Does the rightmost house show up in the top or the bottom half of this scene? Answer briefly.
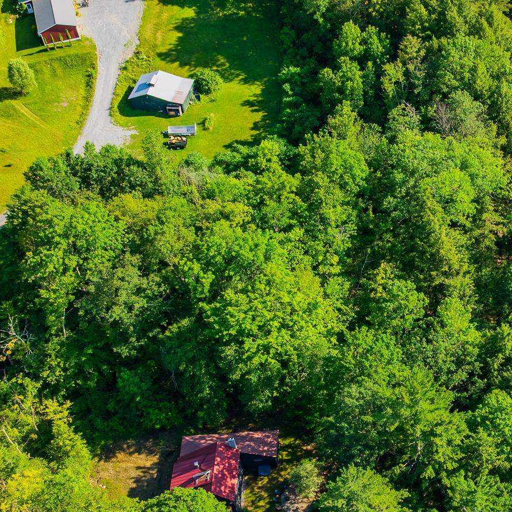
bottom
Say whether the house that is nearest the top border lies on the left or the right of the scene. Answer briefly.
left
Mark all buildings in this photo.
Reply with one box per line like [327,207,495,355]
[173,428,278,512]
[12,0,81,44]
[128,68,201,114]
